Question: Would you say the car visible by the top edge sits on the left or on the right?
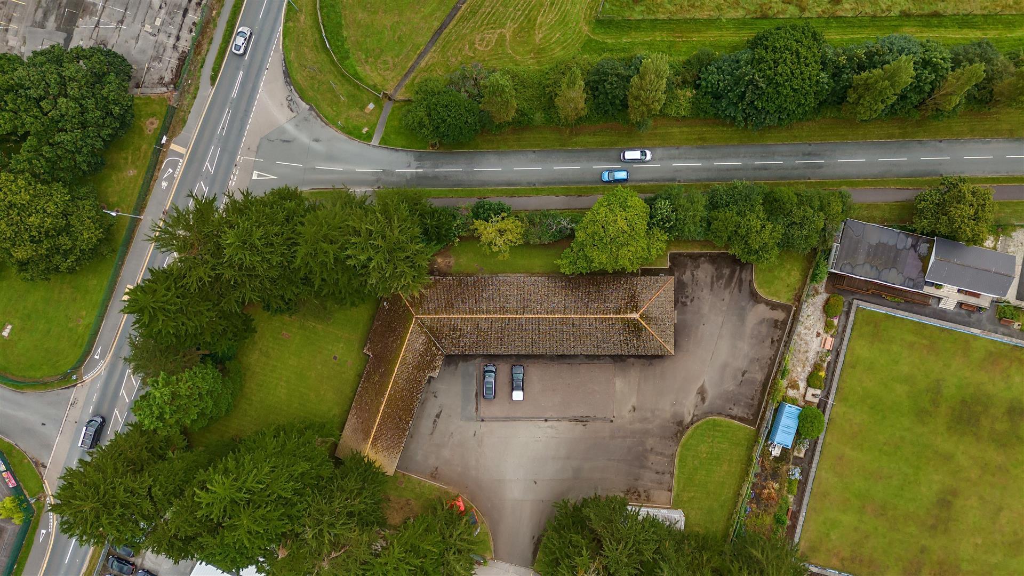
left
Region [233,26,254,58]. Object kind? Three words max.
car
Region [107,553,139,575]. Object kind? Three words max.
car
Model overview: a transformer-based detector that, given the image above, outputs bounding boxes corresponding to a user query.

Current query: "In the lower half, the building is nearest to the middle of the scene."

[335,273,678,476]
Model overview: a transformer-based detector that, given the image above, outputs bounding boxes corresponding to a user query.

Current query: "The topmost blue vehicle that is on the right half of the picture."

[601,169,629,184]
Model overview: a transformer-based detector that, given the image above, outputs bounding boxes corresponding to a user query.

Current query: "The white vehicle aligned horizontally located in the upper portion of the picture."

[621,149,651,163]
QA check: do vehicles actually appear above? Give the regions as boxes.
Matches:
[601,169,629,184]
[136,564,166,576]
[510,364,525,400]
[482,363,497,399]
[109,537,141,559]
[75,414,108,451]
[233,26,254,58]
[107,553,139,575]
[621,149,651,163]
